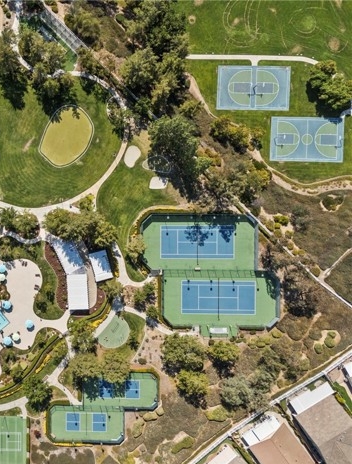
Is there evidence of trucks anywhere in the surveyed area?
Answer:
No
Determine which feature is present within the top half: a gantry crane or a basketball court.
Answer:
basketball court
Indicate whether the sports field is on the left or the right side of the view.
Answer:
right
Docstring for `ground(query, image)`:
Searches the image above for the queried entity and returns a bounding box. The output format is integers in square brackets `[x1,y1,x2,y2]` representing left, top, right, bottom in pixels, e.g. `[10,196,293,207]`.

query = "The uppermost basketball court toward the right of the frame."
[215,64,292,111]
